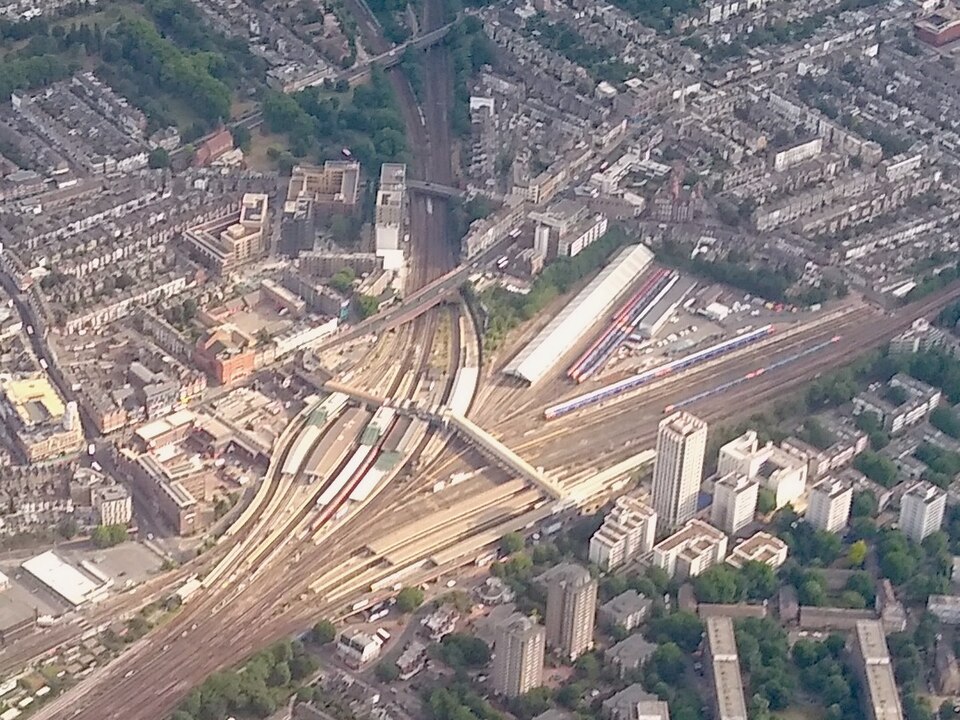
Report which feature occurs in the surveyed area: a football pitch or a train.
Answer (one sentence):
Of the two, only a train appears.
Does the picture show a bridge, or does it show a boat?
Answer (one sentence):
I can see a bridge in this picture.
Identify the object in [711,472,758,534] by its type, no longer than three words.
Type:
building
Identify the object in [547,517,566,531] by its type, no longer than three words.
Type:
vehicle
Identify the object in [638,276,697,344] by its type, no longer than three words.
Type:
shed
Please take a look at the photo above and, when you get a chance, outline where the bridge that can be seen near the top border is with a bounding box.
[302,7,486,90]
